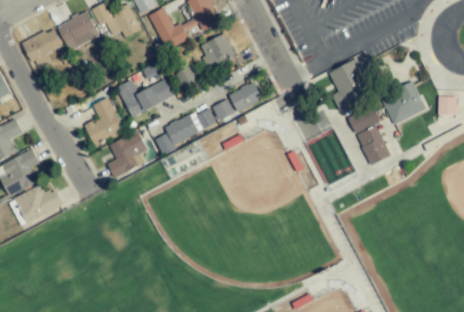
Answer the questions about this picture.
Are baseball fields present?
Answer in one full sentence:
Yes, looking at the shot, I can spot a baseball field.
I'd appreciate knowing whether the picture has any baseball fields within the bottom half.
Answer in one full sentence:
Yes, a baseball field appears within the bottom half.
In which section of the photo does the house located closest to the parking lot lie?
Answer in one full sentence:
The house located closest to the parking lot appears toward the top right of the photo.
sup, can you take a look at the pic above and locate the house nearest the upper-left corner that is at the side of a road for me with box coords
[21,28,64,64]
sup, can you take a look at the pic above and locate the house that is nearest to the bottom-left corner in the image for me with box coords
[10,188,61,229]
